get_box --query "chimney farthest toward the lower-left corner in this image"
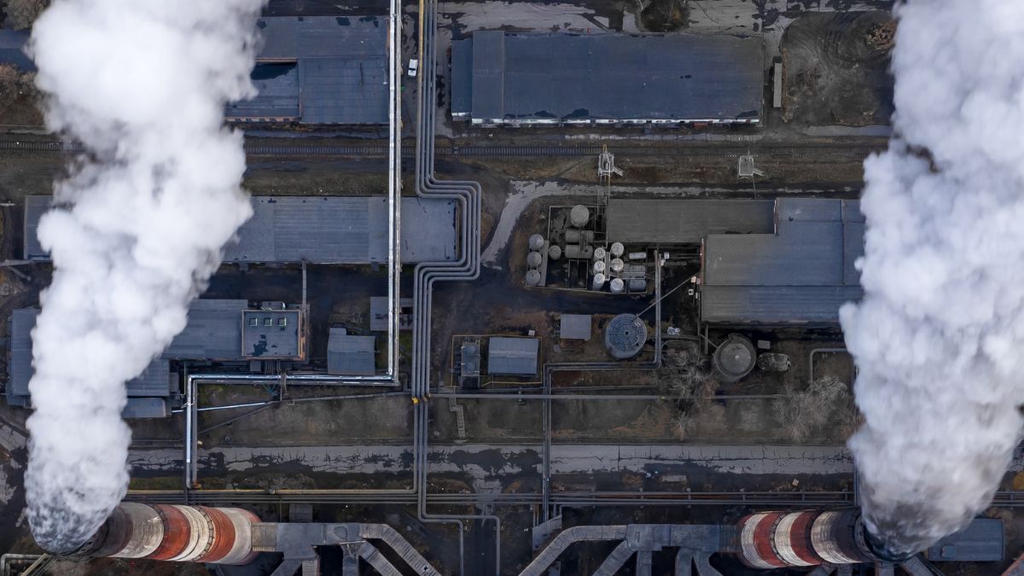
[51,497,257,565]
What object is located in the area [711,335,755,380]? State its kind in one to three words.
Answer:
storage tank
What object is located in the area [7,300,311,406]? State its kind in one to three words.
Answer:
building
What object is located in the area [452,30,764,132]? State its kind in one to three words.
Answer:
building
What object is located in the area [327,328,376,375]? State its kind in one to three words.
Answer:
shed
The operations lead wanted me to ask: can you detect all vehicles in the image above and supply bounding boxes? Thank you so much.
[770,58,781,111]
[408,58,418,77]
